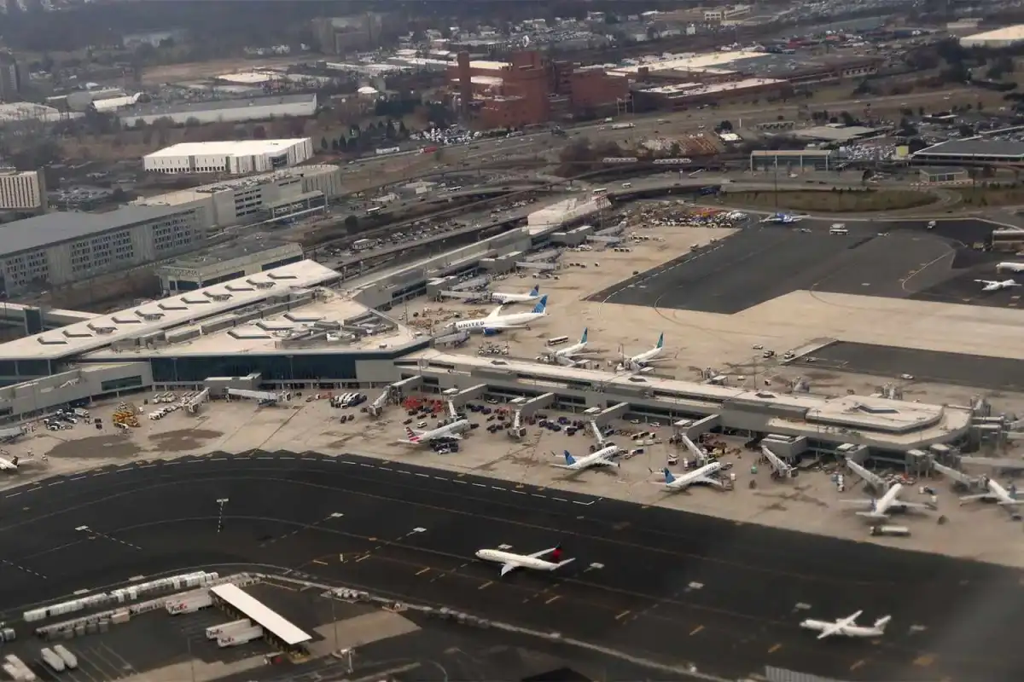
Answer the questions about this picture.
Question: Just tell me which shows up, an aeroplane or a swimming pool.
aeroplane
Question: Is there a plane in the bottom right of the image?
Yes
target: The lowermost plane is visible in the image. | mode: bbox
[800,609,892,641]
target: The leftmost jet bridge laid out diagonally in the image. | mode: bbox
[182,390,212,416]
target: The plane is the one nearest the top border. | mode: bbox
[755,199,811,226]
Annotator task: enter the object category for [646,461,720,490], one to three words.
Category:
airplane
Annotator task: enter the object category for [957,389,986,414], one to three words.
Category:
jet bridge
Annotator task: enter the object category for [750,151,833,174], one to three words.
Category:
train station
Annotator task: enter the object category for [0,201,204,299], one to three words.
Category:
building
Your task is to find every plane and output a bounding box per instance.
[616,335,674,371]
[646,461,720,490]
[755,199,811,226]
[840,482,929,515]
[982,271,1024,294]
[475,540,572,576]
[800,609,892,641]
[0,455,31,472]
[399,421,468,444]
[445,297,552,335]
[967,480,1024,506]
[535,330,596,361]
[997,264,1024,276]
[544,444,618,472]
[493,288,545,306]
